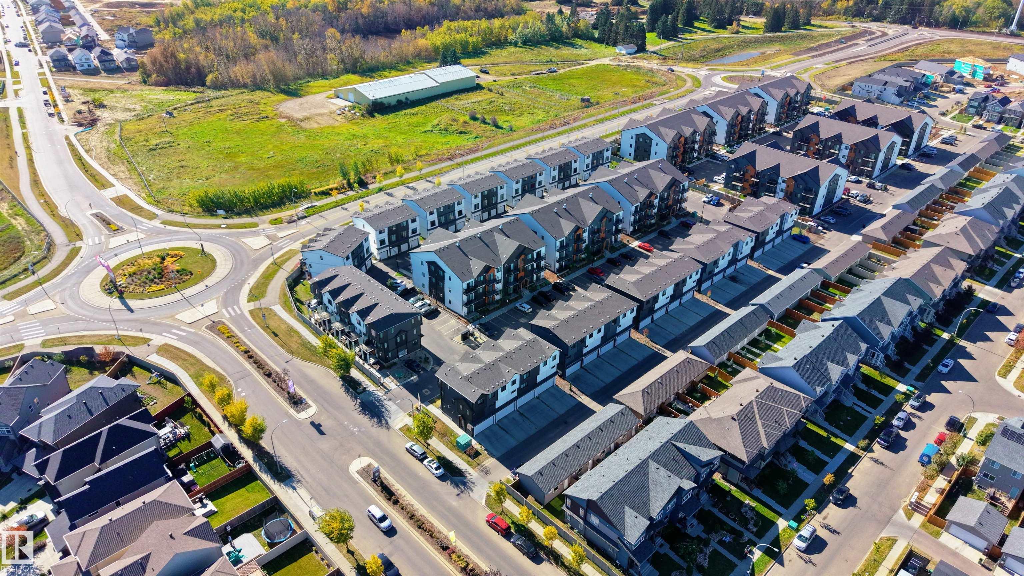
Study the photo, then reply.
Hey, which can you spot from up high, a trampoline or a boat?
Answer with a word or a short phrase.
trampoline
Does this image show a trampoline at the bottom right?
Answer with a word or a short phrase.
No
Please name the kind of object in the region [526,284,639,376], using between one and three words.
house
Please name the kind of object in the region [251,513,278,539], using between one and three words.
trampoline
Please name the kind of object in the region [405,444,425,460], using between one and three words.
car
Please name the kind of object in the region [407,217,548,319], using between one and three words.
building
